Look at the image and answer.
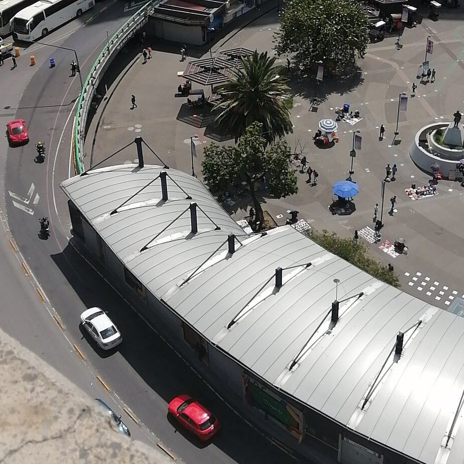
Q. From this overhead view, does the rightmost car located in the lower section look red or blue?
red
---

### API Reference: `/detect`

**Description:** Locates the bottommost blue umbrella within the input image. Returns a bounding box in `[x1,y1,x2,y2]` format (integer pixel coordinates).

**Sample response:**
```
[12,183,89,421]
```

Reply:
[328,179,362,201]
